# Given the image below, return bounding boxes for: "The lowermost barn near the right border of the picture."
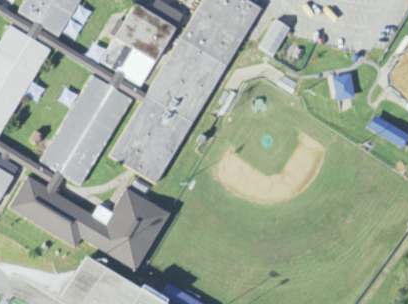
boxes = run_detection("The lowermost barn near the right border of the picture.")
[368,114,408,148]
